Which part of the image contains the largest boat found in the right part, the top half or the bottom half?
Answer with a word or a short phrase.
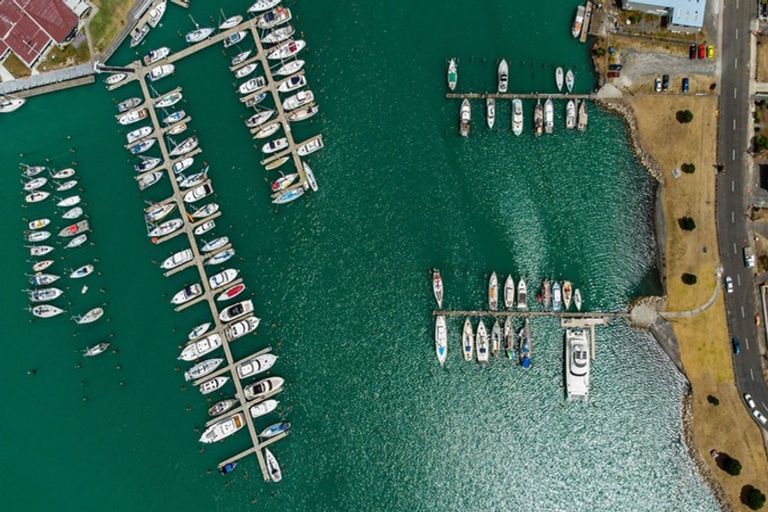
bottom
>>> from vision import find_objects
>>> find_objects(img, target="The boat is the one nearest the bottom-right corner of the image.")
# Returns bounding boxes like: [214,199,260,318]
[564,327,592,402]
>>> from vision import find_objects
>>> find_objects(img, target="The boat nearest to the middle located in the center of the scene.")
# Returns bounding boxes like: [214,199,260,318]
[431,269,443,309]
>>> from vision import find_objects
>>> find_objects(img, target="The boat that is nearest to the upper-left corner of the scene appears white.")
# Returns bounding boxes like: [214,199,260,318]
[0,94,27,115]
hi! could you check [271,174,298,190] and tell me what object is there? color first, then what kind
white boat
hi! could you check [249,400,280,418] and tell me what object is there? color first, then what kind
white boat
